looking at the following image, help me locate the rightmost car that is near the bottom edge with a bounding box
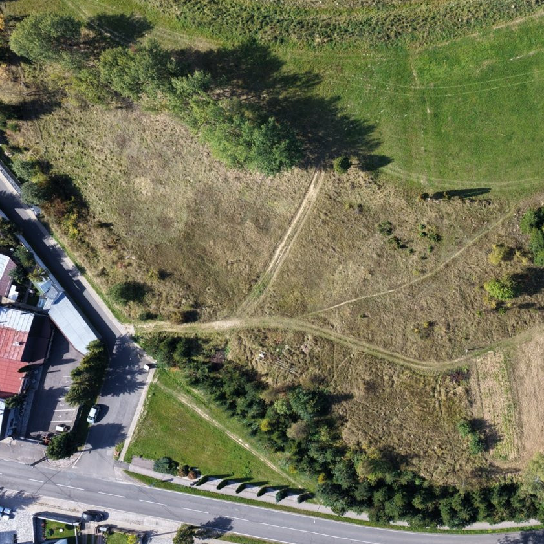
[81,511,103,523]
